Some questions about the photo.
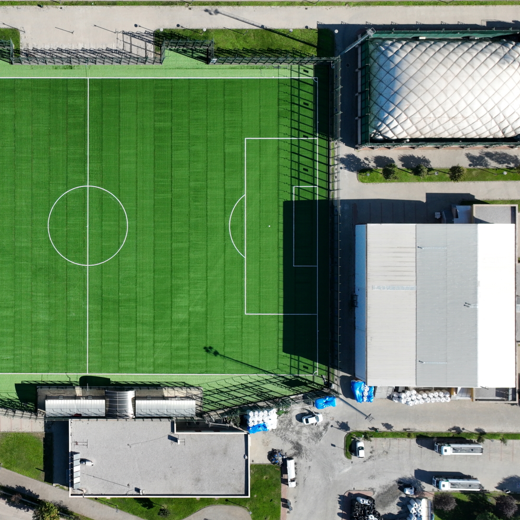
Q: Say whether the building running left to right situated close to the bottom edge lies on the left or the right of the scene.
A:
left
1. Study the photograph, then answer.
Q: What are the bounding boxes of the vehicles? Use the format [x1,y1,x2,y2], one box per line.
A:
[285,458,298,486]
[355,440,365,459]
[301,411,322,427]
[397,483,415,495]
[435,440,483,456]
[432,474,481,490]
